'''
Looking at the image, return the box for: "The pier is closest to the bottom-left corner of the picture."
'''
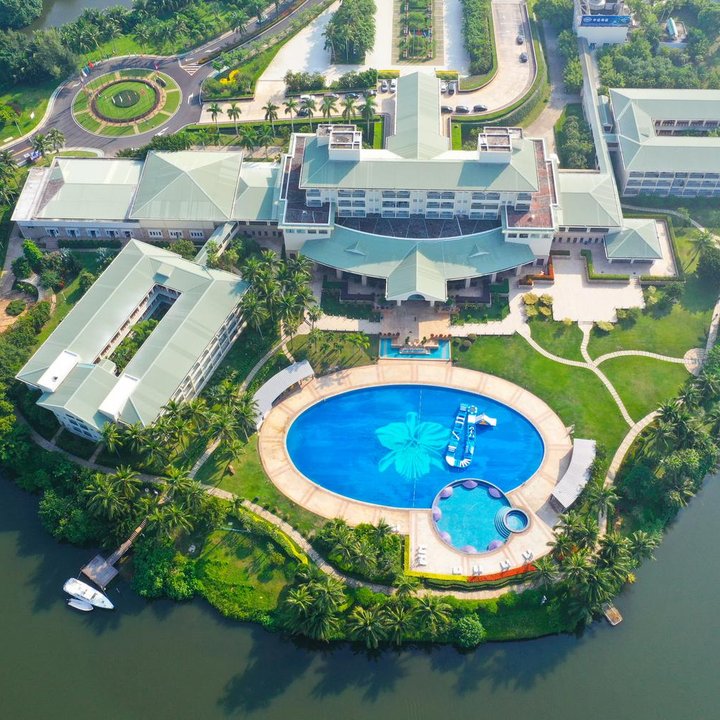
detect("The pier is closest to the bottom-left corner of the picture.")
[79,516,149,588]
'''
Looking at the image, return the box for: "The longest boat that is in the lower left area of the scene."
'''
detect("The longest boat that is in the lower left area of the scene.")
[62,575,113,608]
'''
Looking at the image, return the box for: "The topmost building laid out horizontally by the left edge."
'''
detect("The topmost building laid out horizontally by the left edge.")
[11,150,243,240]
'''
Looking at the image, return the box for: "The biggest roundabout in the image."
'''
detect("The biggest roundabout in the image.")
[71,68,181,137]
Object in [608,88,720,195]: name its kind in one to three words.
building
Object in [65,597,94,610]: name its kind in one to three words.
boat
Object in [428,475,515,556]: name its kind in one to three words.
swimming pool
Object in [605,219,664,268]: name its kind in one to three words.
building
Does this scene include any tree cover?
Yes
